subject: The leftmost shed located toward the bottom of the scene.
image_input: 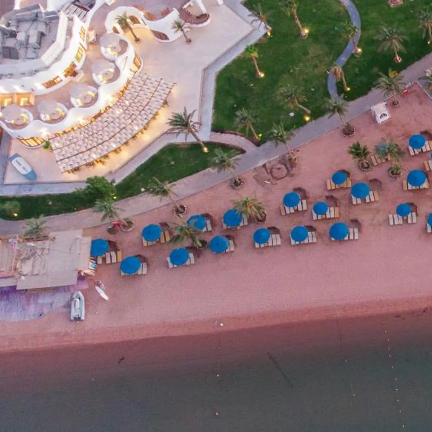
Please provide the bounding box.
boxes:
[0,230,97,322]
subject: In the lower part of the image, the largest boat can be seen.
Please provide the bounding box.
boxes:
[70,290,86,322]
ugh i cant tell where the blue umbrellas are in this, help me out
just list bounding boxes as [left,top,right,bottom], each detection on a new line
[291,227,308,242]
[143,225,162,242]
[396,204,412,218]
[408,135,425,150]
[351,183,370,199]
[407,170,426,187]
[330,224,349,241]
[332,172,348,186]
[210,236,230,254]
[254,228,271,244]
[224,210,242,227]
[91,240,110,256]
[313,202,328,216]
[170,249,190,266]
[284,194,300,208]
[120,255,142,276]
